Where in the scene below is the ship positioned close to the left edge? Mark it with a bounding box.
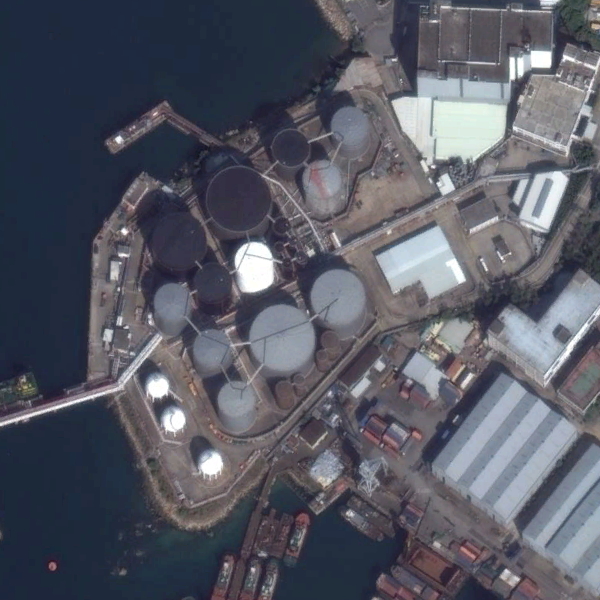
[0,374,39,405]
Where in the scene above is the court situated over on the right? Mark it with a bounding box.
[558,345,600,414]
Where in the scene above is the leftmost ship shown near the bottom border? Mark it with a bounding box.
[210,554,233,600]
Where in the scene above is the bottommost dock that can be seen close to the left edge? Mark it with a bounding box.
[0,371,121,427]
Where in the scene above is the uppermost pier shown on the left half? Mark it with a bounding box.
[105,101,224,154]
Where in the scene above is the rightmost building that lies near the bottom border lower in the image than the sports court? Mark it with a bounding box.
[521,442,600,599]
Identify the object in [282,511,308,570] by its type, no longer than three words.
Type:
ship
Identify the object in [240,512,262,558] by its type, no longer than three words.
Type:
pier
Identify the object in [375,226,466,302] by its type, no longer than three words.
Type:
building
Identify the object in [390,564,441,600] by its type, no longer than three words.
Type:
ship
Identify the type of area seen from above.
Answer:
port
